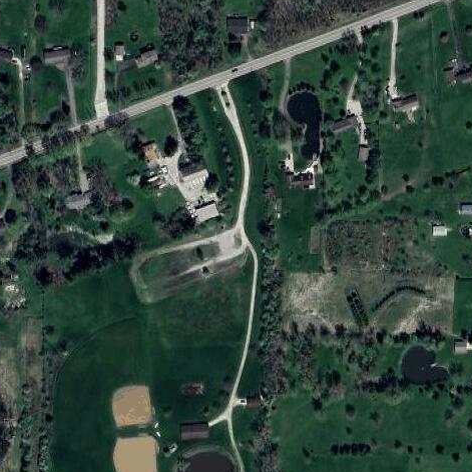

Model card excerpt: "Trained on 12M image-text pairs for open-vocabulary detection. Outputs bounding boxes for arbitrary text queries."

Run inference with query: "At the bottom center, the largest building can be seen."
[181,422,209,439]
